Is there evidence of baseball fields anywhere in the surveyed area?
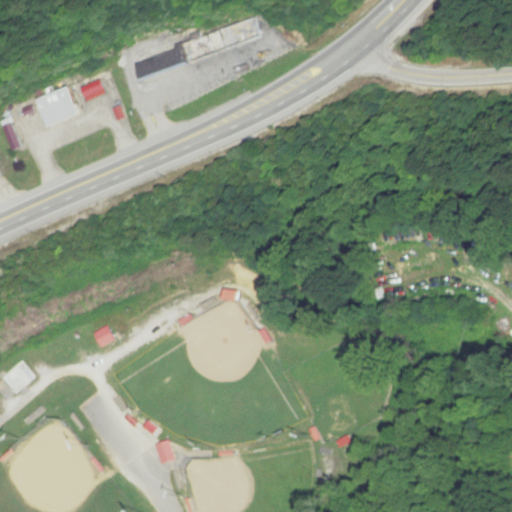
Yes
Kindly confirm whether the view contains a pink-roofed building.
Yes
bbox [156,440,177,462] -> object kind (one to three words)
building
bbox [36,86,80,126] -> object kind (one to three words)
building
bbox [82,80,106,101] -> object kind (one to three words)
barn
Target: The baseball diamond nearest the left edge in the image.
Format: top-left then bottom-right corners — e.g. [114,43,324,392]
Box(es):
[0,418,150,512]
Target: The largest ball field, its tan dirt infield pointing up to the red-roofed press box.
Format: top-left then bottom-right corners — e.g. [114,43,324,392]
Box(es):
[116,300,310,445]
